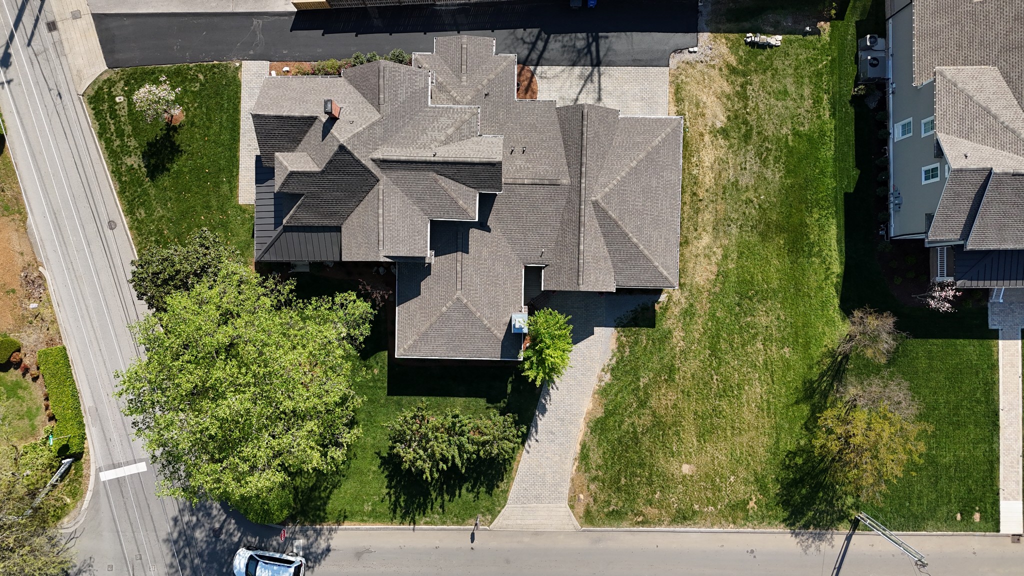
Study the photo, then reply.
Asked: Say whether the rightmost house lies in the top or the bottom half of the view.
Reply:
top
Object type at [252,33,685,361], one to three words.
house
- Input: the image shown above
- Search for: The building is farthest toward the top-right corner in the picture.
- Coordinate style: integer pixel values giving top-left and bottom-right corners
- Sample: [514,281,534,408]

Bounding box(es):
[888,0,1024,304]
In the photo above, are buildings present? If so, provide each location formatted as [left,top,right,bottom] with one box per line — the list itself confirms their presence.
[888,0,1024,304]
[252,33,685,361]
